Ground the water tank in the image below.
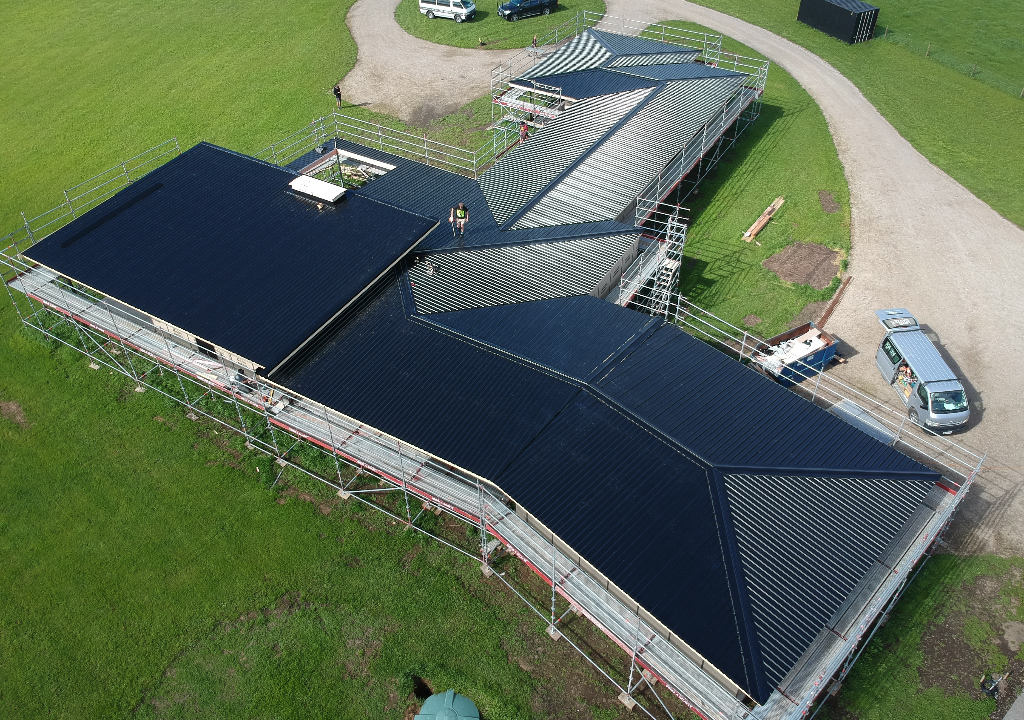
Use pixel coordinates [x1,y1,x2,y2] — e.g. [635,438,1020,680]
[414,688,481,720]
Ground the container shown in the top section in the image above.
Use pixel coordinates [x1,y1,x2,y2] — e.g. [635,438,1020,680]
[798,0,880,43]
